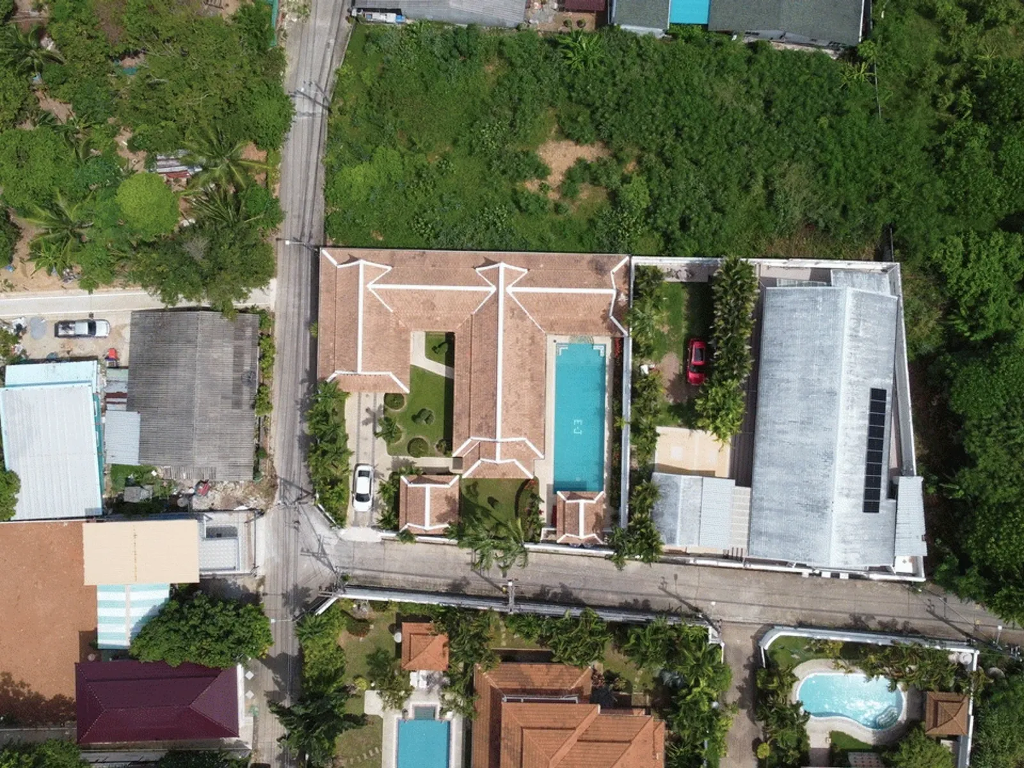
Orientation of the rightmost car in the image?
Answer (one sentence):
In this picture, the rightmost car lies vertically.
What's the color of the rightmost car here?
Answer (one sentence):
The rightmost car is red.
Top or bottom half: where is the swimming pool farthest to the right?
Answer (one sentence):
Seen from above, the swimming pool farthest to the right lies in the bottom half of the view.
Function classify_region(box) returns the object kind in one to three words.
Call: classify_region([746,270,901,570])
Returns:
house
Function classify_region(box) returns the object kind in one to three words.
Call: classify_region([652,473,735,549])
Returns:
building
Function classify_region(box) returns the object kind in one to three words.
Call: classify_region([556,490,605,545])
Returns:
building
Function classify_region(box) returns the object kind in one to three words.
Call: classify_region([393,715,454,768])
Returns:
swimming pool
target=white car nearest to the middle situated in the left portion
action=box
[349,464,373,512]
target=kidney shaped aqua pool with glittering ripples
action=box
[797,669,906,733]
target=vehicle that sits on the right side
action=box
[685,339,709,385]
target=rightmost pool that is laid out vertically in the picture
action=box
[552,335,608,495]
